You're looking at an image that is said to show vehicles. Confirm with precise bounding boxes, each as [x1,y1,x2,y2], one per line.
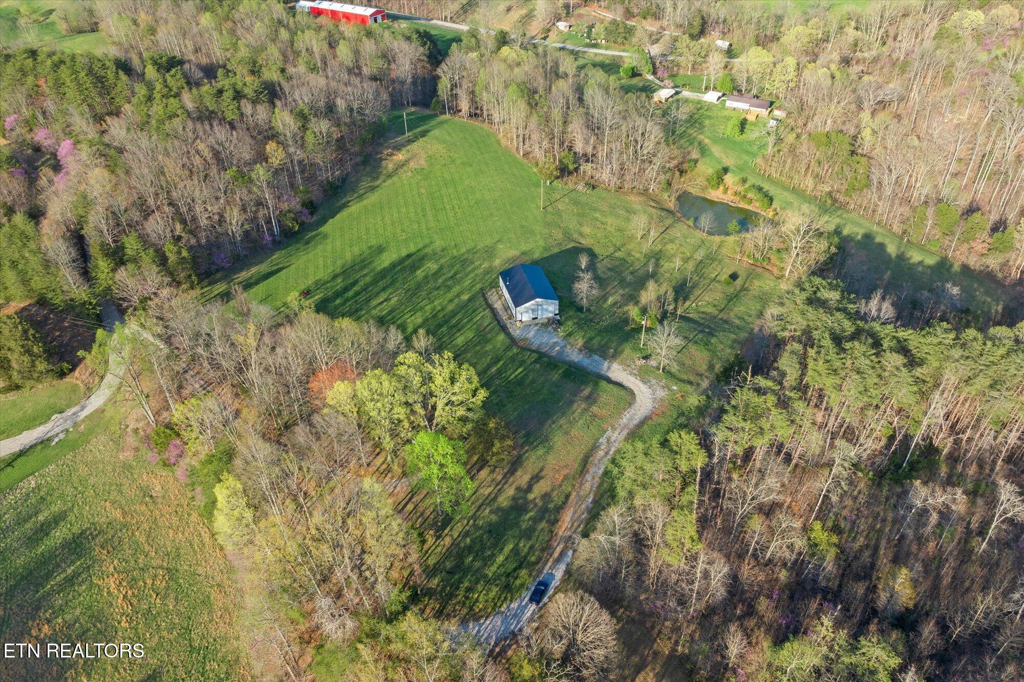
[529,578,549,607]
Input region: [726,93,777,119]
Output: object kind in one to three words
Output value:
house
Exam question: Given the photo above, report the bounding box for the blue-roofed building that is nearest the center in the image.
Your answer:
[499,266,560,322]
